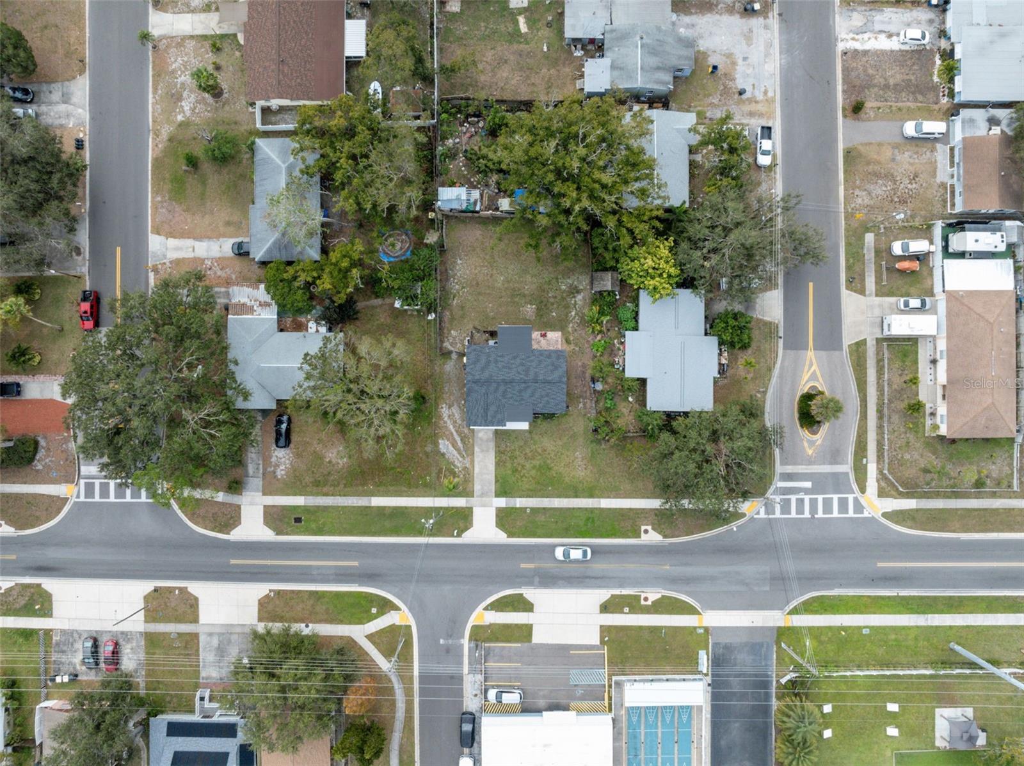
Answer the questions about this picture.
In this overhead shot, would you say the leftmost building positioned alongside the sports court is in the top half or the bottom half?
bottom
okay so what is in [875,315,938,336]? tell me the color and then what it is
white camper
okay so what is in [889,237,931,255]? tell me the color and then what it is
white car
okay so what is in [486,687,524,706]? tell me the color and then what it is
white car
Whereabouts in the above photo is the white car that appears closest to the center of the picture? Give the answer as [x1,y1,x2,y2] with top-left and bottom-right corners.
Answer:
[554,545,591,562]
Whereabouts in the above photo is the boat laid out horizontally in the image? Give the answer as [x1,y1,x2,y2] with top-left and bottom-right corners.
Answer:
[887,260,925,273]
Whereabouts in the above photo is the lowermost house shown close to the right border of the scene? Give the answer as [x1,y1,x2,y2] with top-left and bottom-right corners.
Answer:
[935,259,1016,438]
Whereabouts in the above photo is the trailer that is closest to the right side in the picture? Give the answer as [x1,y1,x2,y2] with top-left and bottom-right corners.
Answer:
[941,225,1010,259]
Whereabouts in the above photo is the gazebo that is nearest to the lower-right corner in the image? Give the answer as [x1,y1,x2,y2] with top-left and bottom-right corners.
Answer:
[935,708,987,749]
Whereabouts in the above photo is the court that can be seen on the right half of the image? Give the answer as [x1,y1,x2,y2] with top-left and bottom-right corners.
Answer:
[613,680,704,766]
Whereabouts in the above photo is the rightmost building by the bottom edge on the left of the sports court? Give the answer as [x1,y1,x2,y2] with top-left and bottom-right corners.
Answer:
[482,709,612,766]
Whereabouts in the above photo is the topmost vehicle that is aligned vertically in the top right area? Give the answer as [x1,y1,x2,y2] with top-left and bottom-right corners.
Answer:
[755,123,774,167]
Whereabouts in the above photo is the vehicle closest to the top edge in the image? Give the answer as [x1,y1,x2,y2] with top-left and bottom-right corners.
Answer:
[897,27,931,45]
